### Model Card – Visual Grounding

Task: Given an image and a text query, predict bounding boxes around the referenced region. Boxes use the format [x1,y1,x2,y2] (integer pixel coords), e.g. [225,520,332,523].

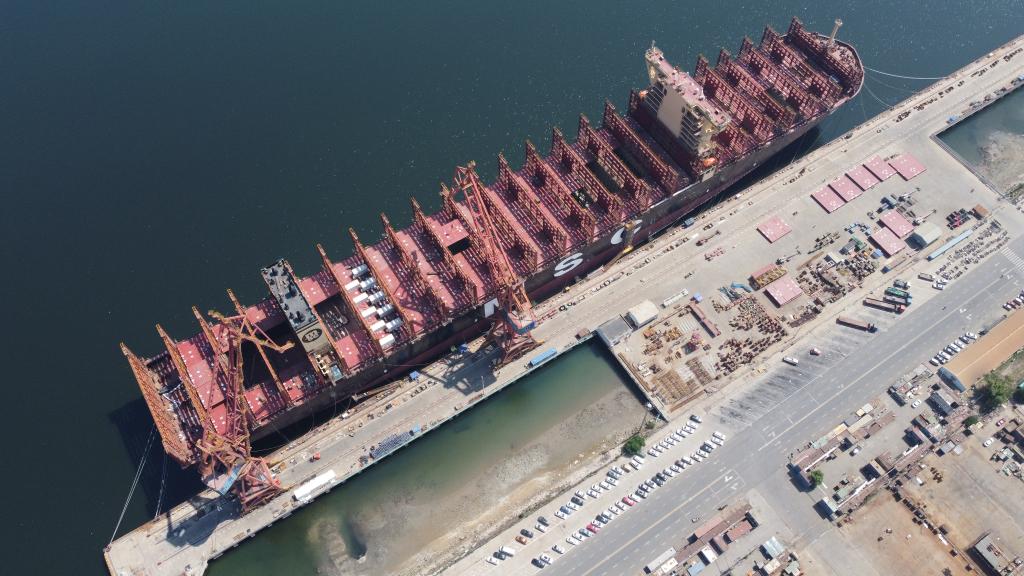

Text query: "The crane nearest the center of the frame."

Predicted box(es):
[438,162,543,367]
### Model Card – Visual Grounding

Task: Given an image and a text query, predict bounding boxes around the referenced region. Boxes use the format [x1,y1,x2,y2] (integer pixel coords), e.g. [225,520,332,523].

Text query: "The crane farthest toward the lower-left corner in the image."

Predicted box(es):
[191,306,304,519]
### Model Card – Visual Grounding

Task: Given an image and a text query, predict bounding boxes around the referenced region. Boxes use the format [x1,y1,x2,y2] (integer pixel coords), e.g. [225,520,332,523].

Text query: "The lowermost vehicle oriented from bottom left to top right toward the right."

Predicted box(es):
[636,546,679,576]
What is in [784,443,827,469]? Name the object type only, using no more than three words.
building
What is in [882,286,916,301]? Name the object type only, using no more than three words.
vehicle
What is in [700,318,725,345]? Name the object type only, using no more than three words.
shipping container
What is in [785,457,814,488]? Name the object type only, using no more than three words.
house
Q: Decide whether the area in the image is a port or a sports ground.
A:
port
